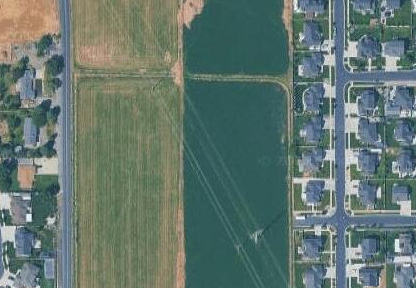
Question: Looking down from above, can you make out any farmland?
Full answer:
Yes, some farmland is visible.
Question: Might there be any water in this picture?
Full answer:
No, the scene doesn't show any water.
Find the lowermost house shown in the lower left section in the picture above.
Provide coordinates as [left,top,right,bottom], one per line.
[16,262,42,288]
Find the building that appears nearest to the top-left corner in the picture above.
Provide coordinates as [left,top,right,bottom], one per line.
[21,70,35,100]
